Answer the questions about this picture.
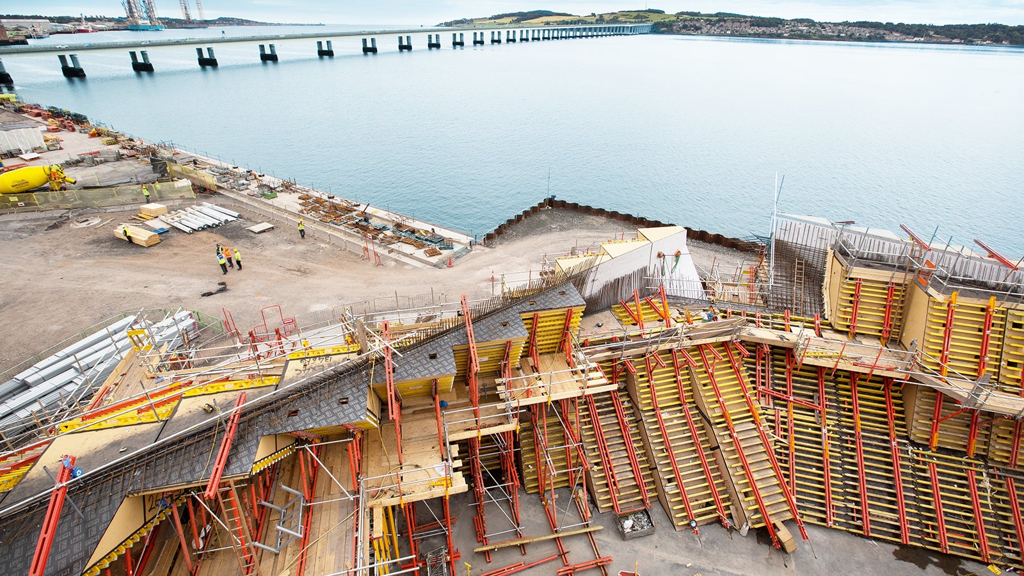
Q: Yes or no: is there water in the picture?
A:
Yes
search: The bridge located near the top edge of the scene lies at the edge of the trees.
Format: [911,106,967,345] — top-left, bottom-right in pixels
[0,22,654,86]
